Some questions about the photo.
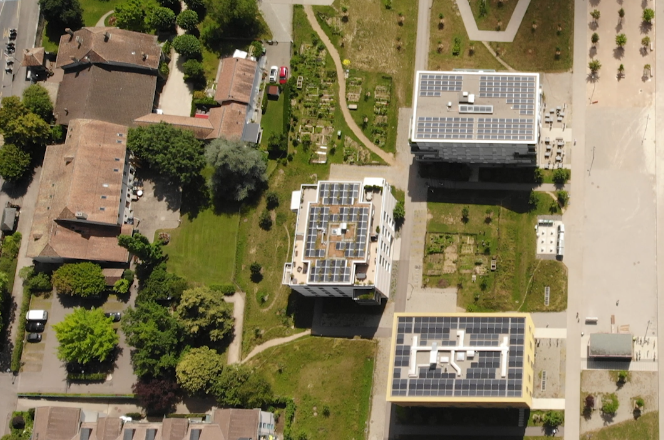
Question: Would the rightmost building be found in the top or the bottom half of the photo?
bottom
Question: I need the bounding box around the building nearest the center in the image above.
[283,177,400,299]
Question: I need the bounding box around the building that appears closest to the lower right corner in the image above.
[589,333,631,358]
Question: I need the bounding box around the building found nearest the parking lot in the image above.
[101,269,128,285]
